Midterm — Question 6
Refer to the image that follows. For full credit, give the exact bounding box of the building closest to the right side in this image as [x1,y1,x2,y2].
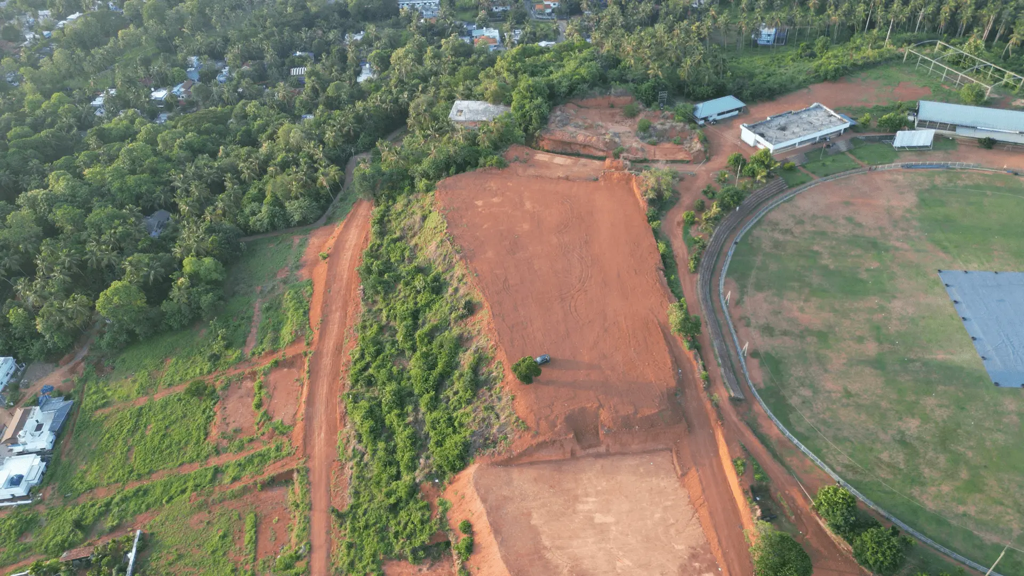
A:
[915,101,1024,144]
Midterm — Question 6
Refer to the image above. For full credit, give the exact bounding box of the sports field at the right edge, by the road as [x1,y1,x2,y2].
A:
[721,164,1024,576]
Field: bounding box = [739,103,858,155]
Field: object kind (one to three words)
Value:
building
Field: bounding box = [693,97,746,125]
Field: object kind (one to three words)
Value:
building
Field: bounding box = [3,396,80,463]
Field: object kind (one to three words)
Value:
house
